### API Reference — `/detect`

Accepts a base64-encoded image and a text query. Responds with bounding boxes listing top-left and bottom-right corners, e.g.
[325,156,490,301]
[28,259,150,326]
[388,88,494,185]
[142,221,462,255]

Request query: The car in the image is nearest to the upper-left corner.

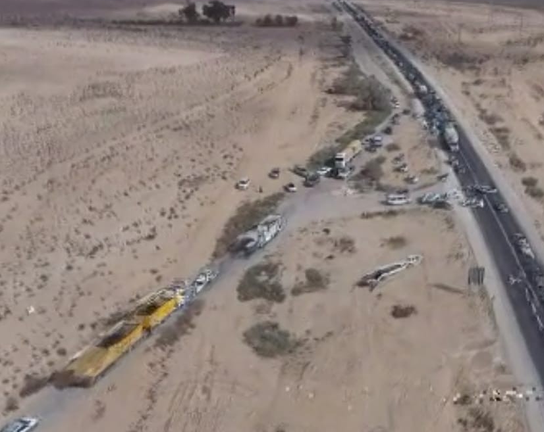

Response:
[235,175,252,189]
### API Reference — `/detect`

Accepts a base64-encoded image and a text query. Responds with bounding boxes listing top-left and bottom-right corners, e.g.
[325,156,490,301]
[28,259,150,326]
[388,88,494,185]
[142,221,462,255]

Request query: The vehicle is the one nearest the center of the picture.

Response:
[247,210,287,242]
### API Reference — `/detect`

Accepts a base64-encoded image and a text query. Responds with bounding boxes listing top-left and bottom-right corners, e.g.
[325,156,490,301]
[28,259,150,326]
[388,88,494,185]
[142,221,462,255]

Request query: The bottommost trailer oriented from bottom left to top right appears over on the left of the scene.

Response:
[60,316,153,384]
